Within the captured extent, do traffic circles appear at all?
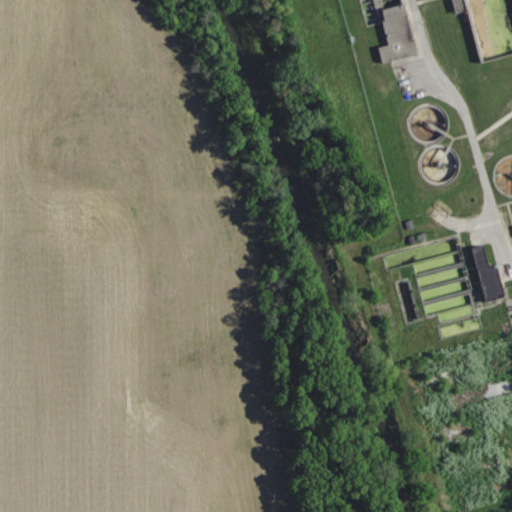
No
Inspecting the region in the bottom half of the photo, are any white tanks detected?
No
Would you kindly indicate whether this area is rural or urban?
rural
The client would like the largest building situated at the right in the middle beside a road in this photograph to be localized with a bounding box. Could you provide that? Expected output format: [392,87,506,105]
[472,246,505,302]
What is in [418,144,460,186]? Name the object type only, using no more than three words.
storage tank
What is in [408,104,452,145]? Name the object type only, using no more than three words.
storage tank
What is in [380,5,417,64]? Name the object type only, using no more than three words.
building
